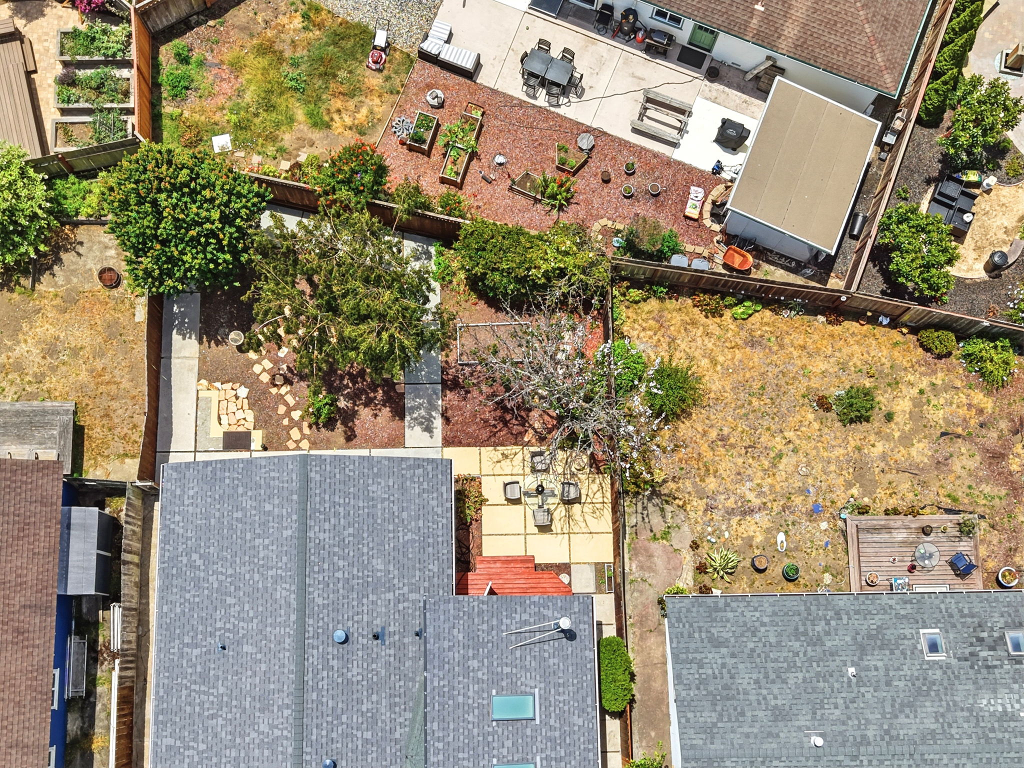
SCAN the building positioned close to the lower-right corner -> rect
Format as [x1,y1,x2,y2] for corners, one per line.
[664,587,1024,768]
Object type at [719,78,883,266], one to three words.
shed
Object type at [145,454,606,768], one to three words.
house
